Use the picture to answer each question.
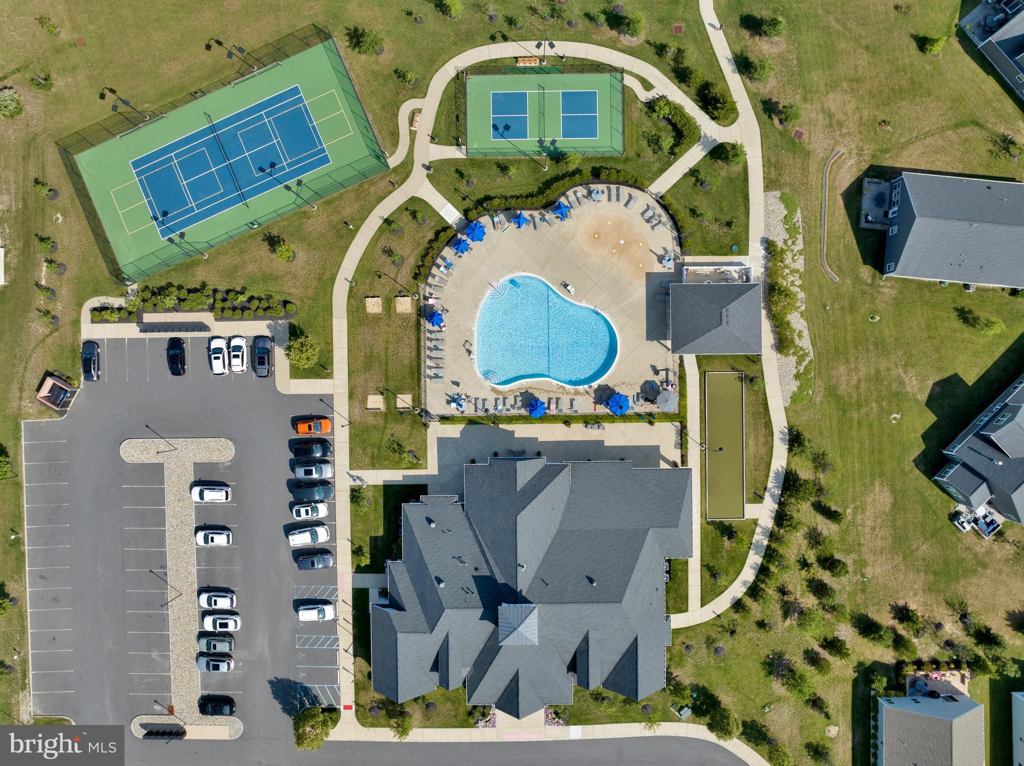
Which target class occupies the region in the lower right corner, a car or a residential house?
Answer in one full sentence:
You can see a residential house in the lower right corner.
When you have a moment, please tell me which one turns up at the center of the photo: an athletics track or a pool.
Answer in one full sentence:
Visible at the center of the photo is a pool.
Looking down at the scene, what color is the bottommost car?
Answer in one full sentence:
From above, the bottommost car appears black.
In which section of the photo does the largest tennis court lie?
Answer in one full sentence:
The largest tennis court is located in the top left region of the scene.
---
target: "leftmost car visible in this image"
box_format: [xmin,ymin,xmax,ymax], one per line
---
[78,341,99,380]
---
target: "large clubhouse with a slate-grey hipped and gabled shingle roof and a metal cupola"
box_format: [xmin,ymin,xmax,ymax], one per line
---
[371,457,693,720]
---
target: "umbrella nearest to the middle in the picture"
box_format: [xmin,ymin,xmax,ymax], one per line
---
[527,398,547,417]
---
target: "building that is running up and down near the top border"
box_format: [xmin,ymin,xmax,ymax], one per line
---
[979,2,1024,99]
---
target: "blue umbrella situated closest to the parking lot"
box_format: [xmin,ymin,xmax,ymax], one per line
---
[427,310,444,327]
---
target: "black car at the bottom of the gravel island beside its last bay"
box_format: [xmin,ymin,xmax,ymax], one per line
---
[198,701,235,721]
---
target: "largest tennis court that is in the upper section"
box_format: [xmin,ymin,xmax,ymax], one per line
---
[74,39,388,283]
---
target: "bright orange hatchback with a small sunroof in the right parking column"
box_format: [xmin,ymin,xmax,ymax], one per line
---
[294,419,330,436]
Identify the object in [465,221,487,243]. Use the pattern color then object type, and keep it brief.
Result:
blue umbrella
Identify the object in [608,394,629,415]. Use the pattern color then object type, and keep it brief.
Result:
blue umbrella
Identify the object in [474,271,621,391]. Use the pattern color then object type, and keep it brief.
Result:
blue swimming pool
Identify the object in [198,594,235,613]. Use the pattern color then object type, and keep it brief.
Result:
white car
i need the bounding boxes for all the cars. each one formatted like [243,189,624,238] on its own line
[296,606,334,625]
[228,338,247,373]
[78,341,99,380]
[293,463,332,481]
[291,503,328,521]
[252,337,272,376]
[291,484,333,502]
[286,527,329,548]
[292,441,331,459]
[295,554,333,573]
[208,338,229,375]
[202,616,239,635]
[197,637,233,656]
[198,701,235,721]
[196,657,233,677]
[294,419,330,436]
[165,338,185,375]
[194,532,231,549]
[198,594,235,613]
[190,487,230,505]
